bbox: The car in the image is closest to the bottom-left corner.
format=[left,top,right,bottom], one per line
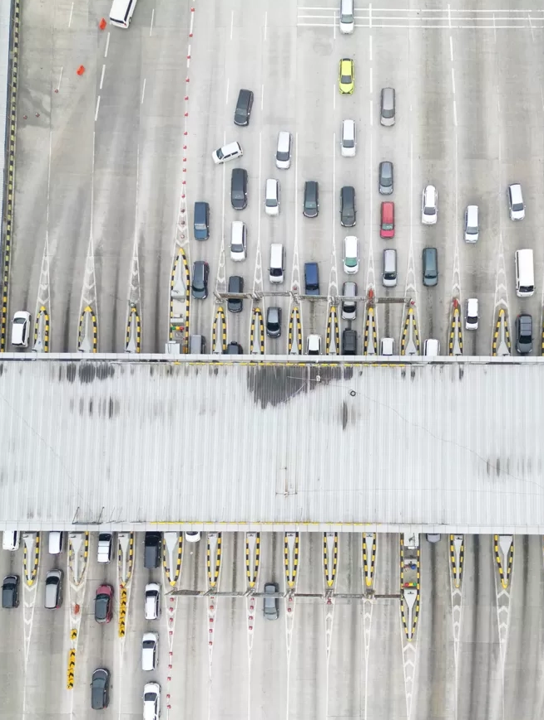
[91,669,110,710]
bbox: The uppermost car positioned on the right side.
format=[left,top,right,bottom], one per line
[338,0,355,32]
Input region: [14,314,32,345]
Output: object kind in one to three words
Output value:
car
